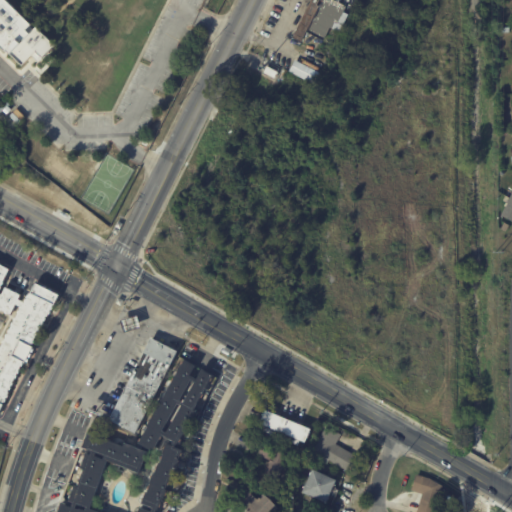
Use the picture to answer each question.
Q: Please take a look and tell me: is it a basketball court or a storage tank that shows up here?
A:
basketball court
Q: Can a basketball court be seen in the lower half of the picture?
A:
No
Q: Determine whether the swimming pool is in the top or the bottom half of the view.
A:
bottom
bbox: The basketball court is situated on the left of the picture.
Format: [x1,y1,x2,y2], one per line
[82,154,134,214]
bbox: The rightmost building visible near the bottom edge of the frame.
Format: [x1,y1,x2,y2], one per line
[412,474,444,512]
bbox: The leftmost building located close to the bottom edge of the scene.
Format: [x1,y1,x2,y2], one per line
[58,448,108,512]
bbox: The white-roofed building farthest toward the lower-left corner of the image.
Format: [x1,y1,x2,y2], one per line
[0,336,36,403]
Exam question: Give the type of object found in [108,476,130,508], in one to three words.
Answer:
swimming pool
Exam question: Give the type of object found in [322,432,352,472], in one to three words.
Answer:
house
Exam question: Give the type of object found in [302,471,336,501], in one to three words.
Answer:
house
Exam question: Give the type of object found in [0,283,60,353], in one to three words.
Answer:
building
